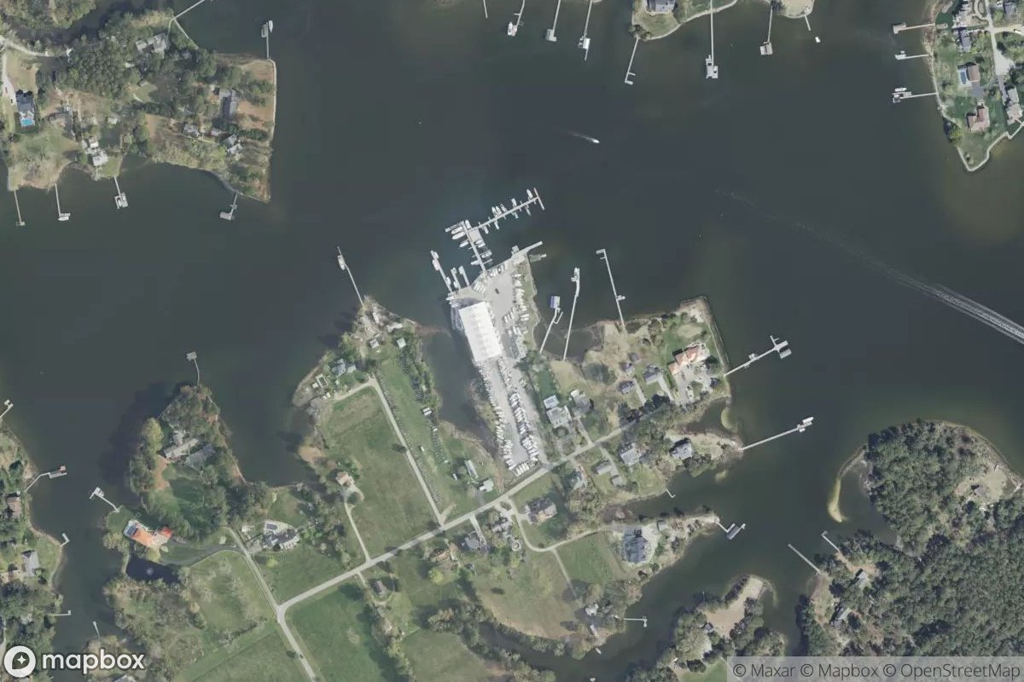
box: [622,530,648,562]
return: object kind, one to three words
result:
house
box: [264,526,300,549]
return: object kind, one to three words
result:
house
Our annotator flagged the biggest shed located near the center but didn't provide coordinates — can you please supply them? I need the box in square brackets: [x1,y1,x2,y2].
[459,301,501,362]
